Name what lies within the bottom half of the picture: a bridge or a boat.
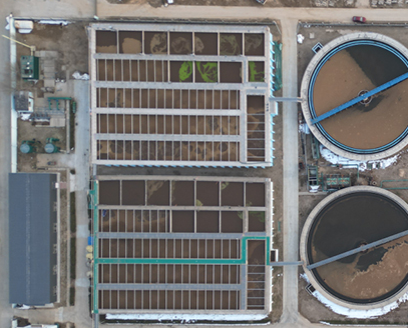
bridge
